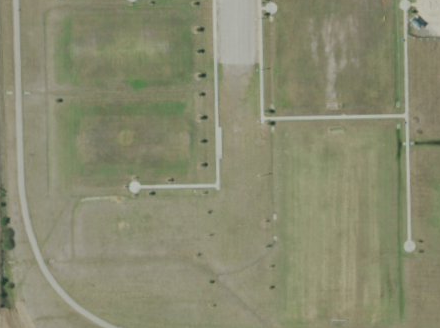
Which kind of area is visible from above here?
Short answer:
sports ground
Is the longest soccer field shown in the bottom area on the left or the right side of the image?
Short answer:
right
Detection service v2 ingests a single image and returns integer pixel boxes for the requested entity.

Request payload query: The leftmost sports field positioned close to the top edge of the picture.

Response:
[55,10,195,86]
